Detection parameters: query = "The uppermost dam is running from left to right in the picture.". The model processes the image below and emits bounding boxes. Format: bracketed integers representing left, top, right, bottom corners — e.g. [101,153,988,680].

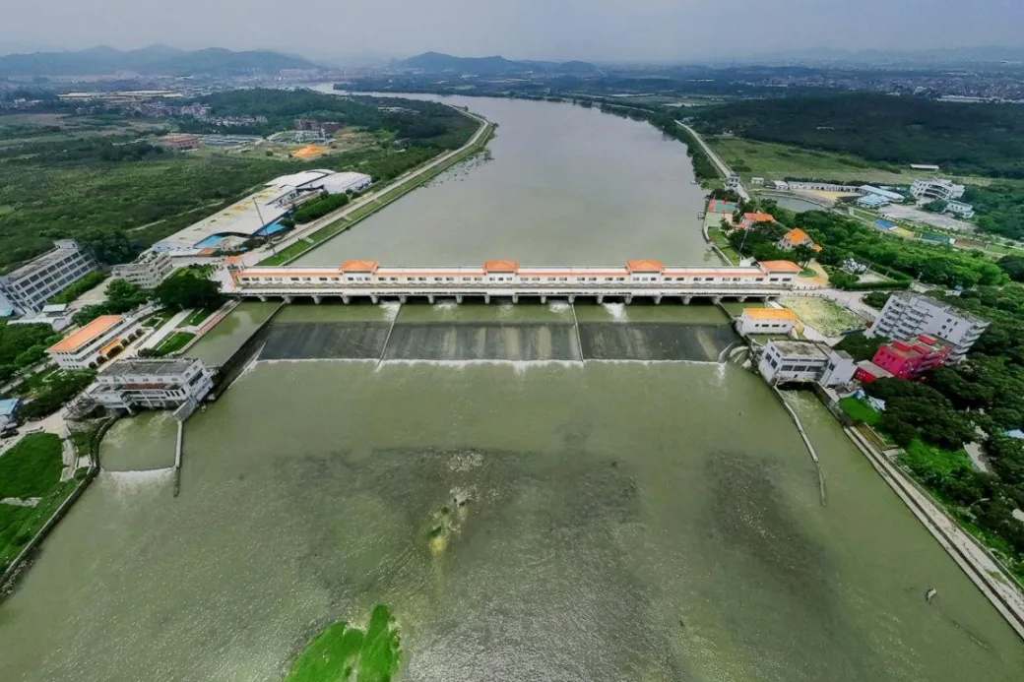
[228,260,811,304]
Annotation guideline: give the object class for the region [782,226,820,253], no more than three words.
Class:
house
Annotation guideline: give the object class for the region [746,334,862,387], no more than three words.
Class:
building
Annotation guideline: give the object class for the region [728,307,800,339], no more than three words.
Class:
building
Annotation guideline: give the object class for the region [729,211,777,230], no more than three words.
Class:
house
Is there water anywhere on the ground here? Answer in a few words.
Yes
